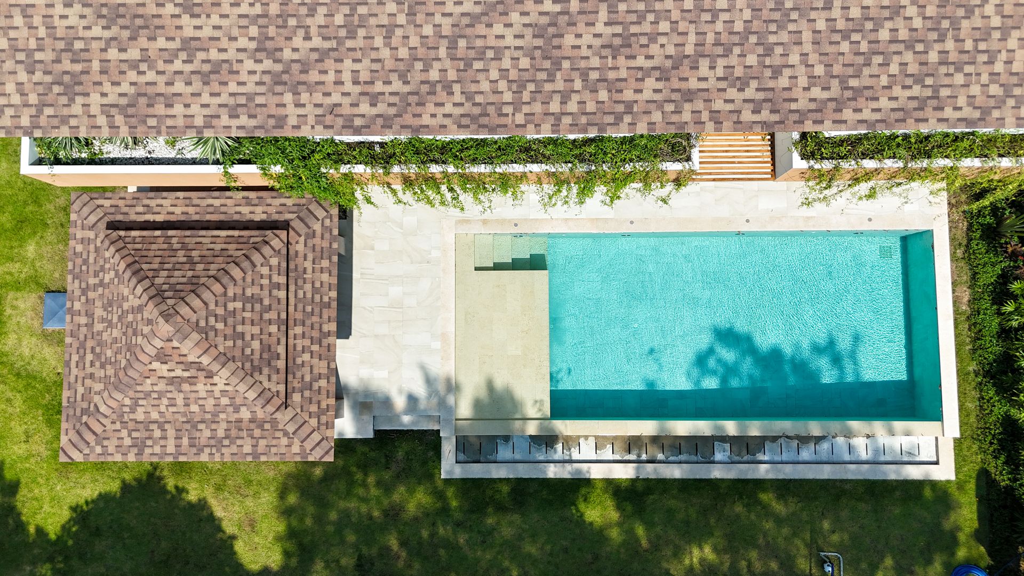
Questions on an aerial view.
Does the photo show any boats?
No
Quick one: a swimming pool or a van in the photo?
swimming pool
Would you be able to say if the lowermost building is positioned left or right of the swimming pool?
left of it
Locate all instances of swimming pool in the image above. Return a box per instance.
[440,217,960,437]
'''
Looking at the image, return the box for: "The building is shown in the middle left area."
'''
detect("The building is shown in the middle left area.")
[58,189,346,462]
